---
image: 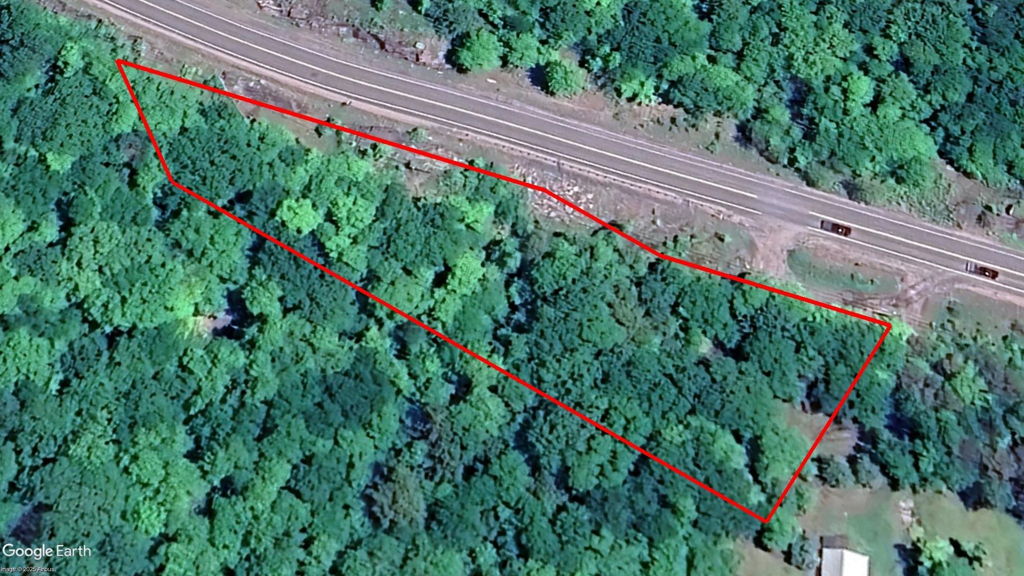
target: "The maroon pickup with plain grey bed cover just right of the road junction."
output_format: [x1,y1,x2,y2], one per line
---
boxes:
[820,220,852,237]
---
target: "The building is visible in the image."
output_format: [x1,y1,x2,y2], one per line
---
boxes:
[822,538,869,576]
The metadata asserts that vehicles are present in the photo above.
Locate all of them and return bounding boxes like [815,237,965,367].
[820,220,852,237]
[966,262,999,280]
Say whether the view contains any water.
No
